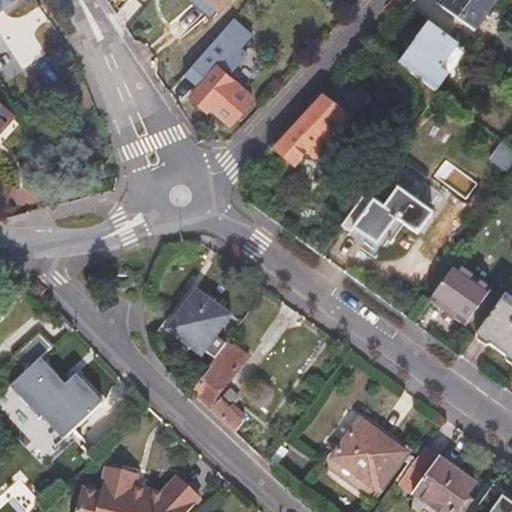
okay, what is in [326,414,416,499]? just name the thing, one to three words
house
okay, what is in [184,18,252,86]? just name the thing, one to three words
house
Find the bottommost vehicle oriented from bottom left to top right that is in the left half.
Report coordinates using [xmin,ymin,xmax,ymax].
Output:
[174,80,196,99]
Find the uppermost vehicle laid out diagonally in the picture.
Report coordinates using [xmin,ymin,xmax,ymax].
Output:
[178,8,200,28]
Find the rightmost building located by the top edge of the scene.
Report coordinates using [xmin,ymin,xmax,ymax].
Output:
[436,0,502,34]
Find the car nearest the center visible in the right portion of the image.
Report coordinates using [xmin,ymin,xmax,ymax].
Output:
[340,290,362,310]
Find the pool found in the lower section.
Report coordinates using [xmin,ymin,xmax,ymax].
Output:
[12,334,54,371]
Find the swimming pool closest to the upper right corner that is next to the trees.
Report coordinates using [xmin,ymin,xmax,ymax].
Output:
[432,159,478,200]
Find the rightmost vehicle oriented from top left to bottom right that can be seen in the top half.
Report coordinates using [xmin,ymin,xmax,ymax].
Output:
[39,58,58,80]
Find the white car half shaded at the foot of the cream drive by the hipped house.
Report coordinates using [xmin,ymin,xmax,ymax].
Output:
[383,408,402,430]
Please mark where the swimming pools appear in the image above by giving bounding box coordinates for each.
[432,159,478,200]
[12,334,54,371]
